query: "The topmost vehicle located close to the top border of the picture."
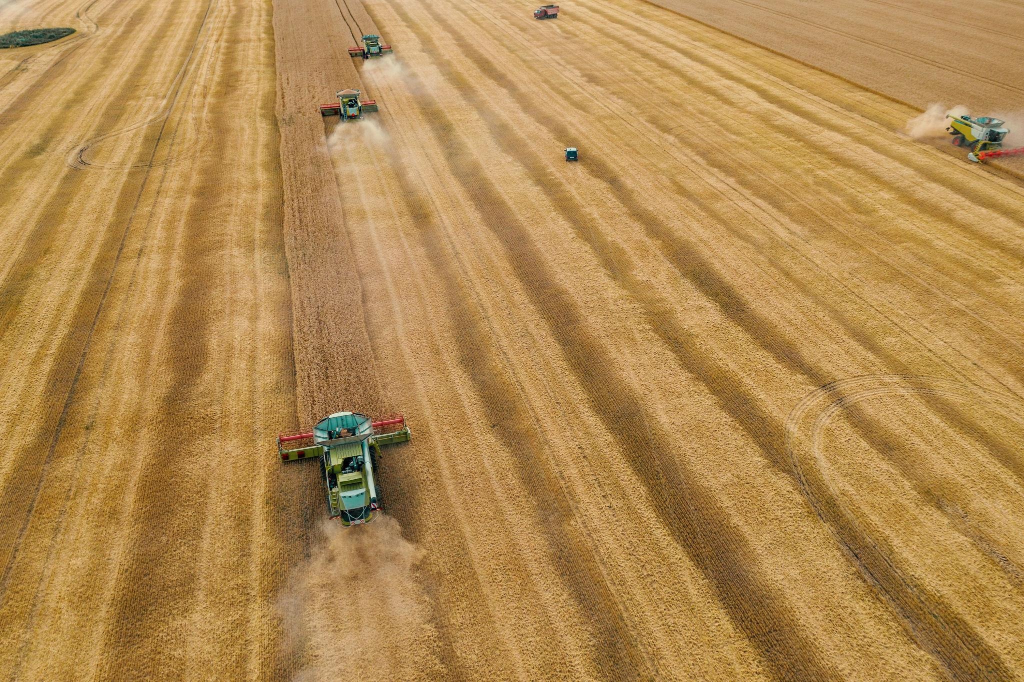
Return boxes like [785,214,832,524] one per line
[534,3,561,19]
